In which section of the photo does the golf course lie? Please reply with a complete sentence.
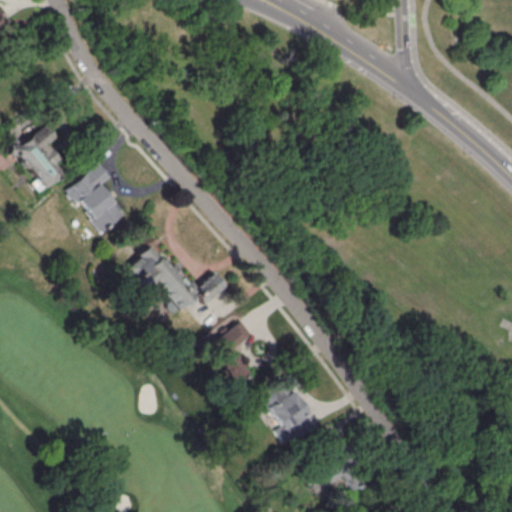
You can find the golf course in the bottom left area of the picture.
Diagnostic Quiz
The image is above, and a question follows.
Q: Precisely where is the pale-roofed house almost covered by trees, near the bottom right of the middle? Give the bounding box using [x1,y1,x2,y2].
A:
[330,470,366,494]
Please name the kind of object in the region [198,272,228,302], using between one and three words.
building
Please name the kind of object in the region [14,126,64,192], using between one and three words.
house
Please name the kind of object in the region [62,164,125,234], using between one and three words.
house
